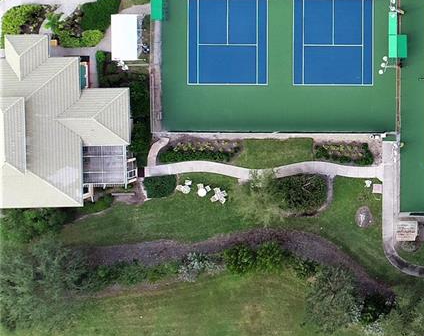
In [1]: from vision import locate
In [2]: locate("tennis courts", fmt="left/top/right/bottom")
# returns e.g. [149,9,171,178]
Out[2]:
[161,0,281,132]
[281,0,396,132]
[400,0,424,213]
